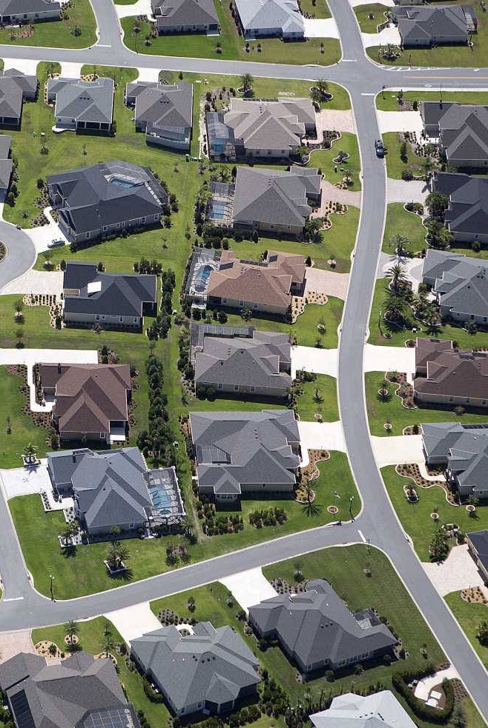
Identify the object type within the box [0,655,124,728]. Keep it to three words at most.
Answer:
house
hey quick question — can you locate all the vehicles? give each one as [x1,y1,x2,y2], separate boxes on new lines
[47,238,65,247]
[376,141,385,152]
